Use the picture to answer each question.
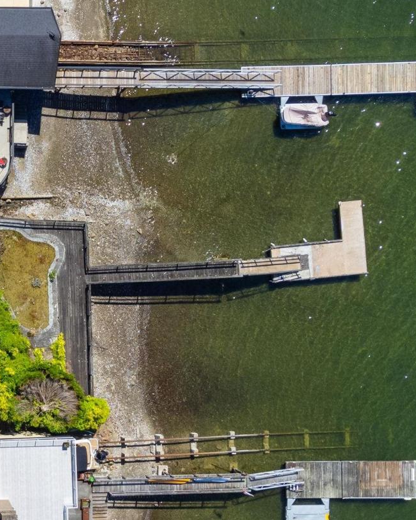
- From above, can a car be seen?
No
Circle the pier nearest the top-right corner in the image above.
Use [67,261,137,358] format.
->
[238,61,416,103]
